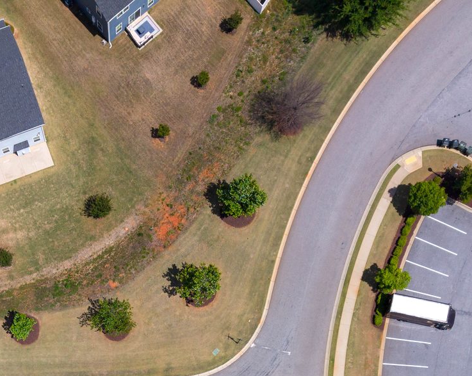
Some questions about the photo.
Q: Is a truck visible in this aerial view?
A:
Yes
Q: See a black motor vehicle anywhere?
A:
No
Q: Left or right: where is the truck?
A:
right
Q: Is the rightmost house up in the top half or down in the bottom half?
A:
top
